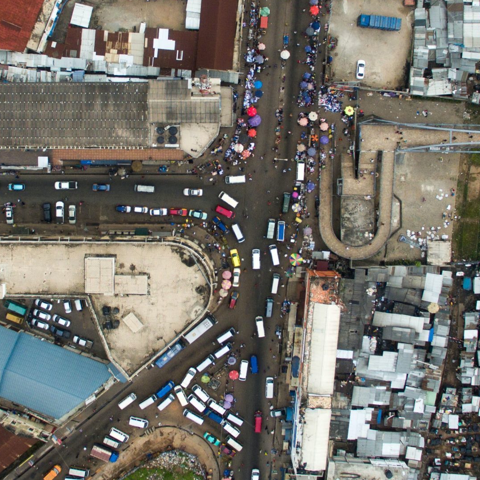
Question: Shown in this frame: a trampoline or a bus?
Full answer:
This aerial view contains a bus.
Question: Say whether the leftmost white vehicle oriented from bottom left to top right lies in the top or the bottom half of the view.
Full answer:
The leftmost white vehicle oriented from bottom left to top right is in the bottom half of the image.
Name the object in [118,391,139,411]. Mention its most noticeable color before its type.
white vehicle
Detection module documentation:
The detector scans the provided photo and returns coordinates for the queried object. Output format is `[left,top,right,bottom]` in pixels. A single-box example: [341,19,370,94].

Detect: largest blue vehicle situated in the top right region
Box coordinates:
[359,17,399,30]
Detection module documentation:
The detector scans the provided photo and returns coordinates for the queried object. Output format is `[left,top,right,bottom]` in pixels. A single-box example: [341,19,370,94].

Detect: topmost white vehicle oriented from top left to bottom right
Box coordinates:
[218,190,239,209]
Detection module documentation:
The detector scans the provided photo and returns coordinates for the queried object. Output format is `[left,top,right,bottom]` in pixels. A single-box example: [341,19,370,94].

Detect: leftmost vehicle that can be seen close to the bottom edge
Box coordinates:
[43,463,63,480]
